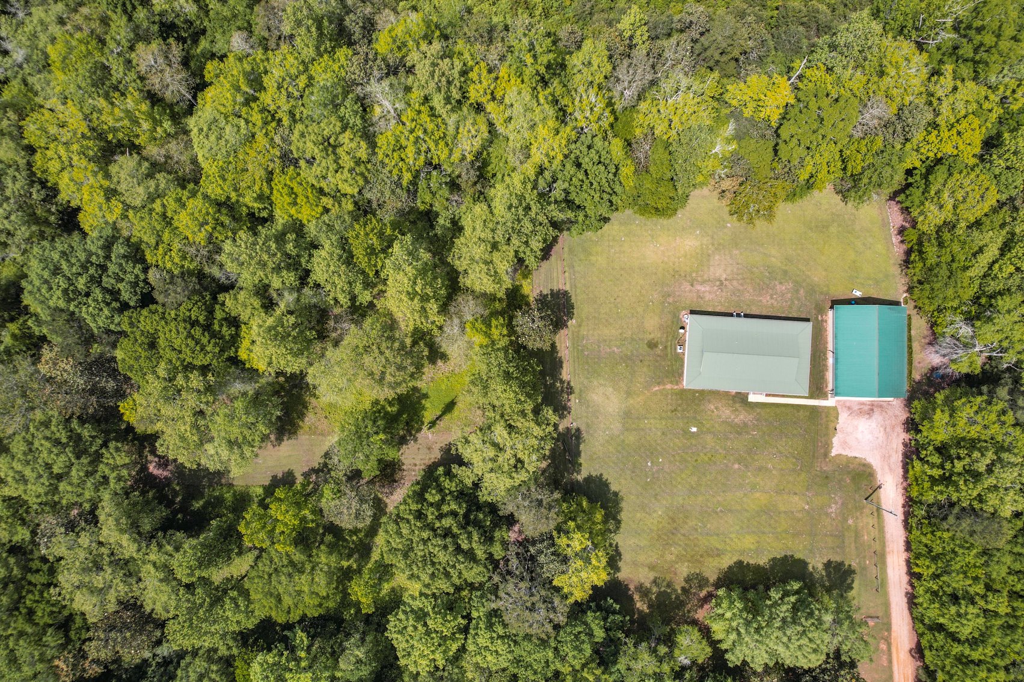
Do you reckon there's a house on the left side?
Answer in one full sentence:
No, looking on the left side, there is no house.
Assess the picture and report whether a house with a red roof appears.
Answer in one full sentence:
No, no house with a red roof can be seen from above.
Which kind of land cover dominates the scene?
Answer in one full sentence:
The bulk of the photo consists of trees.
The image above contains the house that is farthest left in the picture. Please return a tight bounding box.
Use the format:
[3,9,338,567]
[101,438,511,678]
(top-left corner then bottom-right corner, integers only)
[683,314,813,396]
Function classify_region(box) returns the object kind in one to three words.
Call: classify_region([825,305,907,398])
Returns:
building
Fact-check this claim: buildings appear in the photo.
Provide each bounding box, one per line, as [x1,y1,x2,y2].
[825,305,907,398]
[683,314,813,396]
